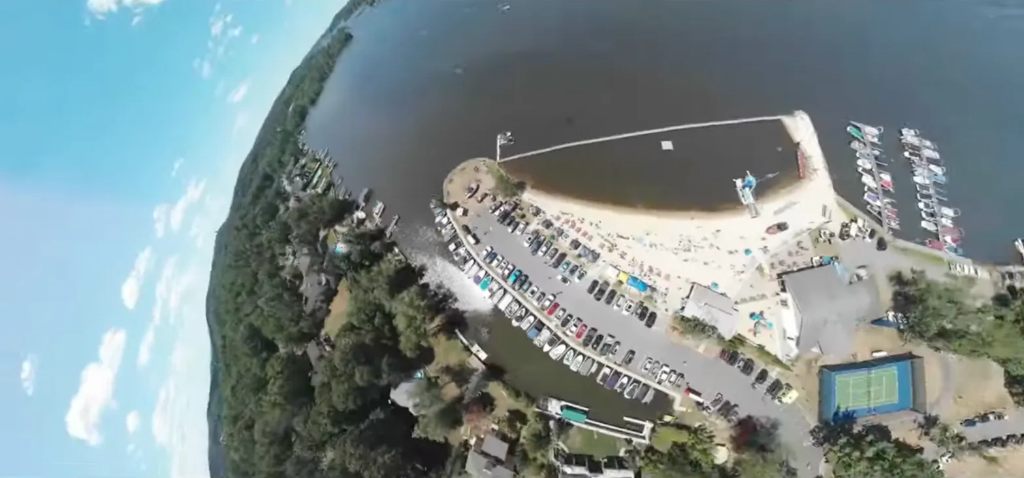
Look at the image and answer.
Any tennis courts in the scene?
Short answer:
Yes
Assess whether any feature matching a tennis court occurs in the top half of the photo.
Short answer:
No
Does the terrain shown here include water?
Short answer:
Yes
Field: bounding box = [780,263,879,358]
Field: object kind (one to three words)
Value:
building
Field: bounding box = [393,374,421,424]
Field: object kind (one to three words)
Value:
house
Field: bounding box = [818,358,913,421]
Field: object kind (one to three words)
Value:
tennis court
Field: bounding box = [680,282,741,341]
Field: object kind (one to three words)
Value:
building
